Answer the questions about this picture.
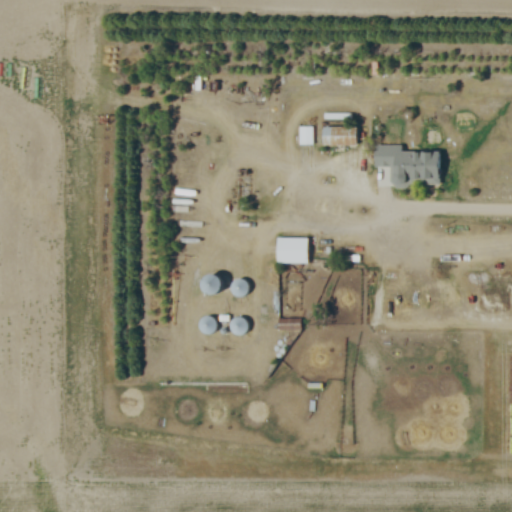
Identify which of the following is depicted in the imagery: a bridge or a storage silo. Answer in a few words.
storage silo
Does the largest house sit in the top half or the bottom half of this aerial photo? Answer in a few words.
top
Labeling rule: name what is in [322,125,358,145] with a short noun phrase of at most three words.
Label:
barn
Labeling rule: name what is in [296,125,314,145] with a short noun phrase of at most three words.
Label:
shed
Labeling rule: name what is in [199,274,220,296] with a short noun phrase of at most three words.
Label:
silo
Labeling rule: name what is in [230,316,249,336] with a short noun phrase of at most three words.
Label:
silo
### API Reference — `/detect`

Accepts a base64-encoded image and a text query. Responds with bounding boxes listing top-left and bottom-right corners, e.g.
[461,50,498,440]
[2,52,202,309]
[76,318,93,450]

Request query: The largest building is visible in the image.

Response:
[375,144,442,188]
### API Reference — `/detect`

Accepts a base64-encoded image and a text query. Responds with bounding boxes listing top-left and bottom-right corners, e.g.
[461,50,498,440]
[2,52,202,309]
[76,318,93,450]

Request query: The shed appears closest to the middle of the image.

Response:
[277,237,308,264]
